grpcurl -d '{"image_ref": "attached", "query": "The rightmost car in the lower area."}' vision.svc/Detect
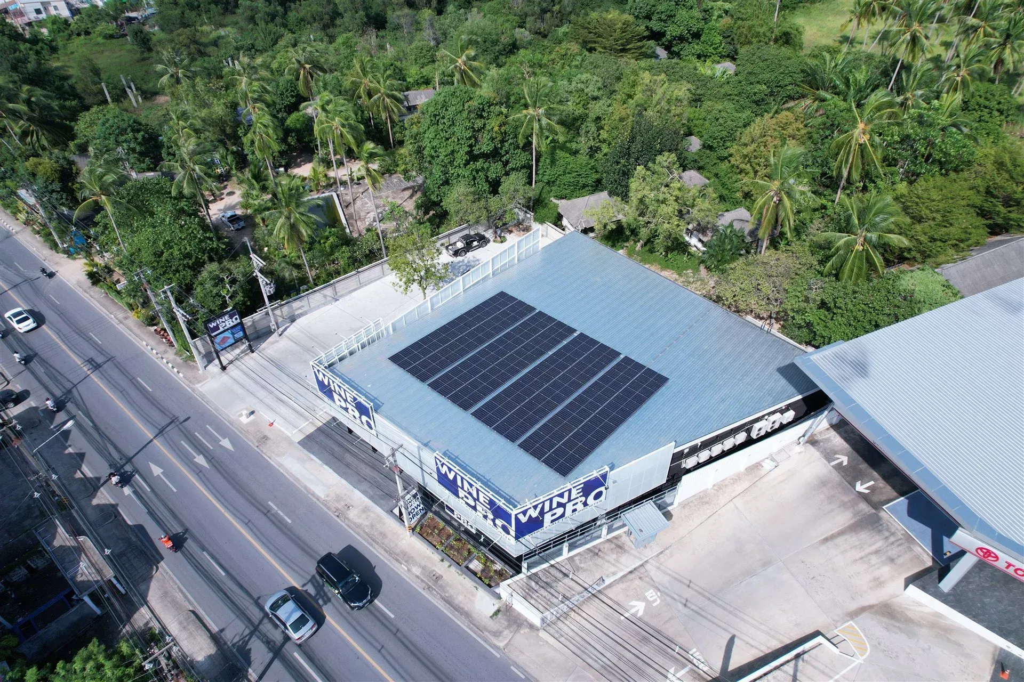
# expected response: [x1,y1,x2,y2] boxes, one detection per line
[314,556,370,615]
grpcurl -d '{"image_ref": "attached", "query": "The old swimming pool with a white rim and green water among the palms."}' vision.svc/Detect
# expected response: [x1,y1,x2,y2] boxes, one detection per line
[300,189,355,252]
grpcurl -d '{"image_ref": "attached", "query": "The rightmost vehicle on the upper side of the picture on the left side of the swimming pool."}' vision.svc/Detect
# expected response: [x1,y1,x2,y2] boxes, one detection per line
[220,210,246,233]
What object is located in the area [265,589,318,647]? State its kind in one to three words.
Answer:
car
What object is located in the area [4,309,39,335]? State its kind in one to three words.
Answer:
car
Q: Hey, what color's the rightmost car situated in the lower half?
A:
black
